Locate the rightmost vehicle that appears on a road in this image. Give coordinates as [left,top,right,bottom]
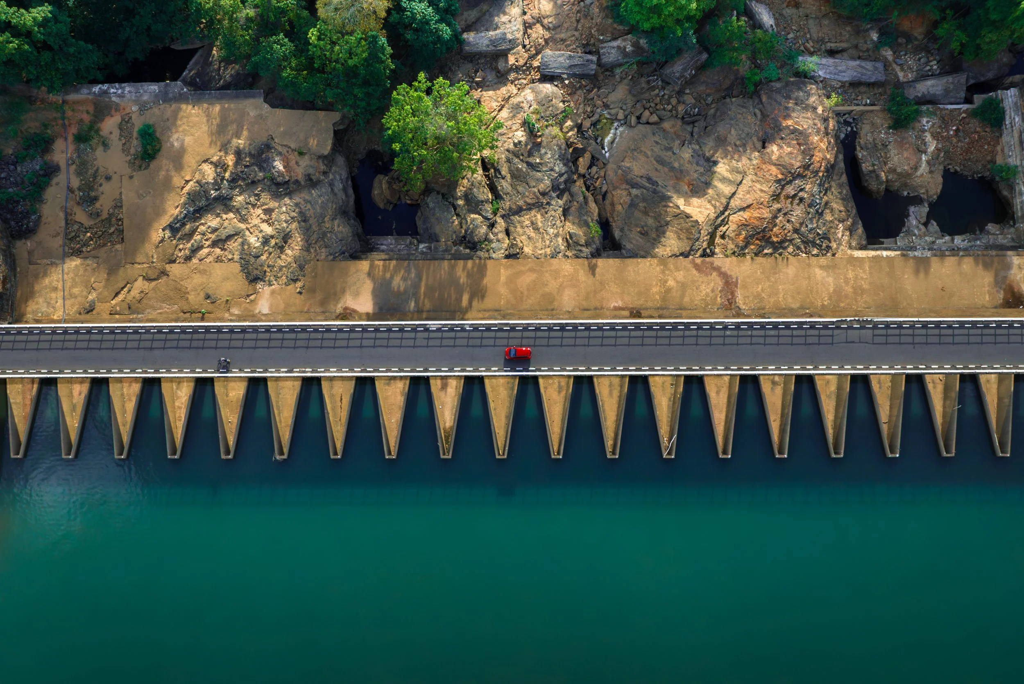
[505,345,532,360]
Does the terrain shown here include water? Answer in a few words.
Yes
